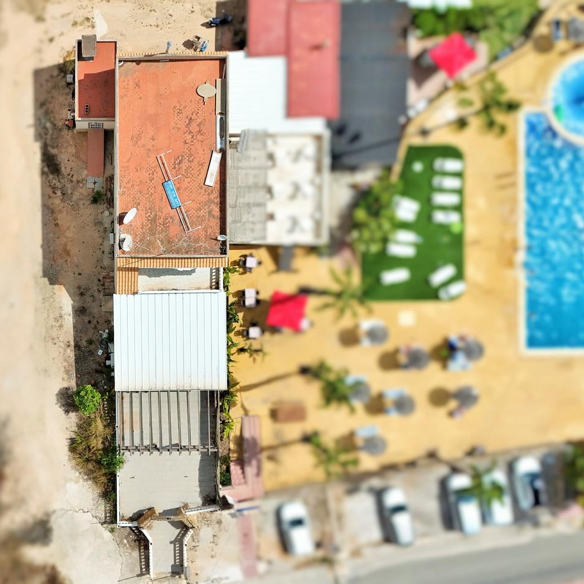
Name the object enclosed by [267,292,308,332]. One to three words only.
umbrella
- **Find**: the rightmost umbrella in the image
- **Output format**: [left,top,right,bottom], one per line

[565,18,584,47]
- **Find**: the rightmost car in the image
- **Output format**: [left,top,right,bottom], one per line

[509,453,544,509]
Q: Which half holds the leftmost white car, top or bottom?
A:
bottom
